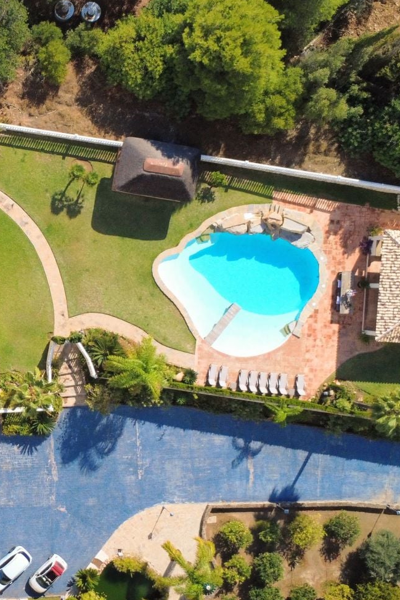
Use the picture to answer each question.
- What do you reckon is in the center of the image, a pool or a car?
pool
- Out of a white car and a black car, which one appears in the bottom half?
white car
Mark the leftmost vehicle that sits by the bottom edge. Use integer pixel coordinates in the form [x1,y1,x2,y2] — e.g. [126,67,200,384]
[0,542,32,593]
